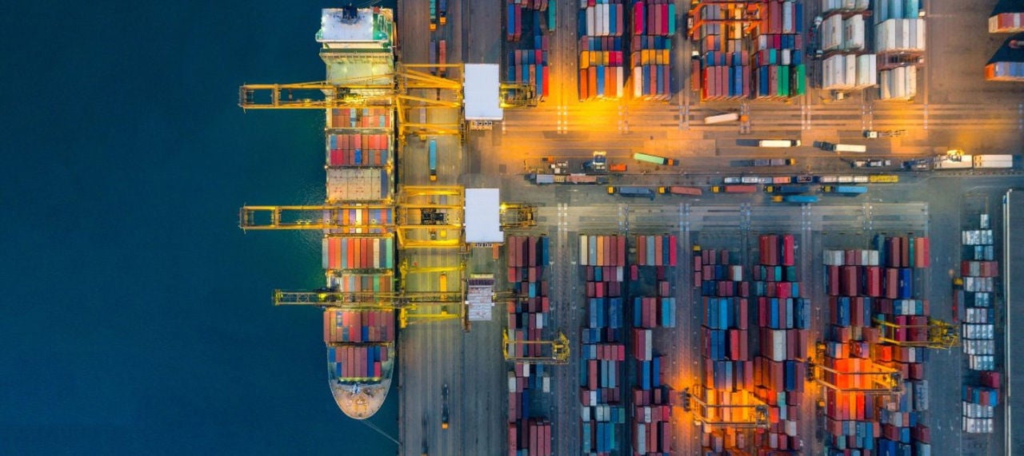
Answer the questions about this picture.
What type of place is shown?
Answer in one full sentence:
What you see here is a port.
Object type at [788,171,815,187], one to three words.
work vehicle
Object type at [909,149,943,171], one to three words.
work vehicle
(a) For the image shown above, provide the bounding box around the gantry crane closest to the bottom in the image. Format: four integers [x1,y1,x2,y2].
[689,390,774,429]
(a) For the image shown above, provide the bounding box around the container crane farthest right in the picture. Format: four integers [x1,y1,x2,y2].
[871,314,970,349]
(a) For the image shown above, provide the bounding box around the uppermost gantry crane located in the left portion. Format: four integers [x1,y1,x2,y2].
[239,63,536,149]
